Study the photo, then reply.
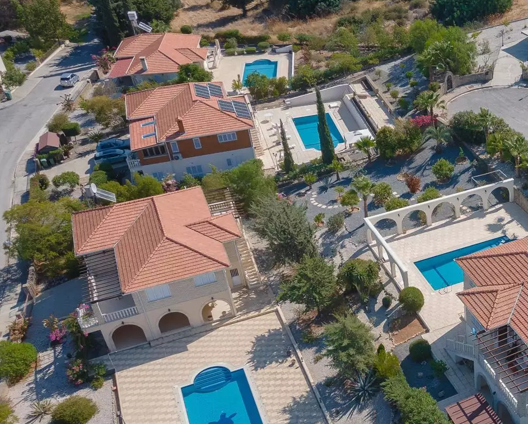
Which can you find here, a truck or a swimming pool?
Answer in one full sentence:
There is a swimming pool in the scene.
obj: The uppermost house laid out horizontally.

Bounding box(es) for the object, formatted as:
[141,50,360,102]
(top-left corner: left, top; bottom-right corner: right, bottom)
[108,32,229,96]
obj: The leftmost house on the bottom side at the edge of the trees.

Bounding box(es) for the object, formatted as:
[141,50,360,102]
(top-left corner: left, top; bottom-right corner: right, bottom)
[71,184,274,356]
